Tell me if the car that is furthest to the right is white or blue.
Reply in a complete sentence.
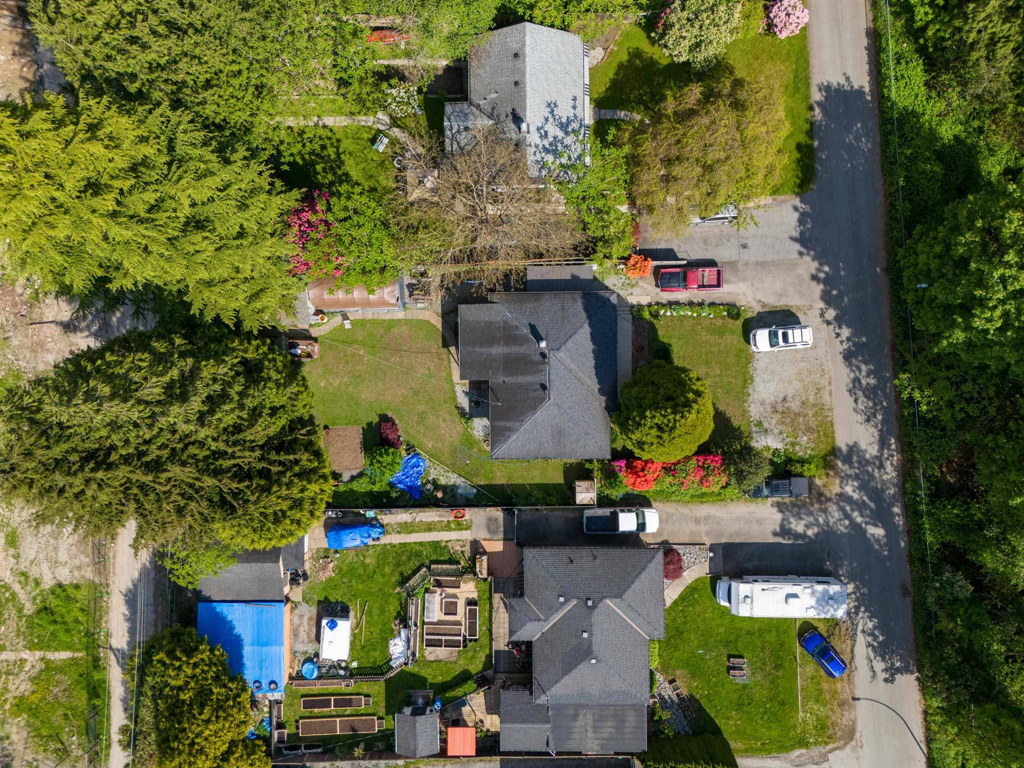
In this view, the car that is furthest to the right is blue.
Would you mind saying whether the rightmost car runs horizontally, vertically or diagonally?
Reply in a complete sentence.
Seen from above, the rightmost car lies diagonally.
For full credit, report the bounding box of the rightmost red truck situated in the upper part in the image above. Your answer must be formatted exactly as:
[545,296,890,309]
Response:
[659,264,728,292]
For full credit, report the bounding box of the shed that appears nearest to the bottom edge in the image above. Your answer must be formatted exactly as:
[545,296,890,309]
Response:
[395,705,439,757]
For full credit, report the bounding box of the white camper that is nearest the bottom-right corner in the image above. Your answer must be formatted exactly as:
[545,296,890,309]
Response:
[713,571,847,618]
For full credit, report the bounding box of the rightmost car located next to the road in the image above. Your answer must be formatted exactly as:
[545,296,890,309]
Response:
[797,626,848,681]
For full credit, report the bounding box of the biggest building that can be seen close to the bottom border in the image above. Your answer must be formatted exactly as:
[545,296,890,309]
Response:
[499,546,667,756]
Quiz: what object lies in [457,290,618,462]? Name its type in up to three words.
house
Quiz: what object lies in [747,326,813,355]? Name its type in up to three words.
car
